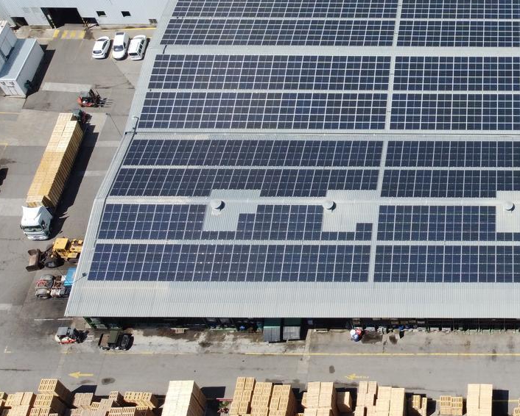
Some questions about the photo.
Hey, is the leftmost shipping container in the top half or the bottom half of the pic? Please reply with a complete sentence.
The top half of the photo is where the leftmost shipping container is.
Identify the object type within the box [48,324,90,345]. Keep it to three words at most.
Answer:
work vehicle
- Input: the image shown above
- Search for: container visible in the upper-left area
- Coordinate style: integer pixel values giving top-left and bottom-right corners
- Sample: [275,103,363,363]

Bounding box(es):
[0,38,46,94]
